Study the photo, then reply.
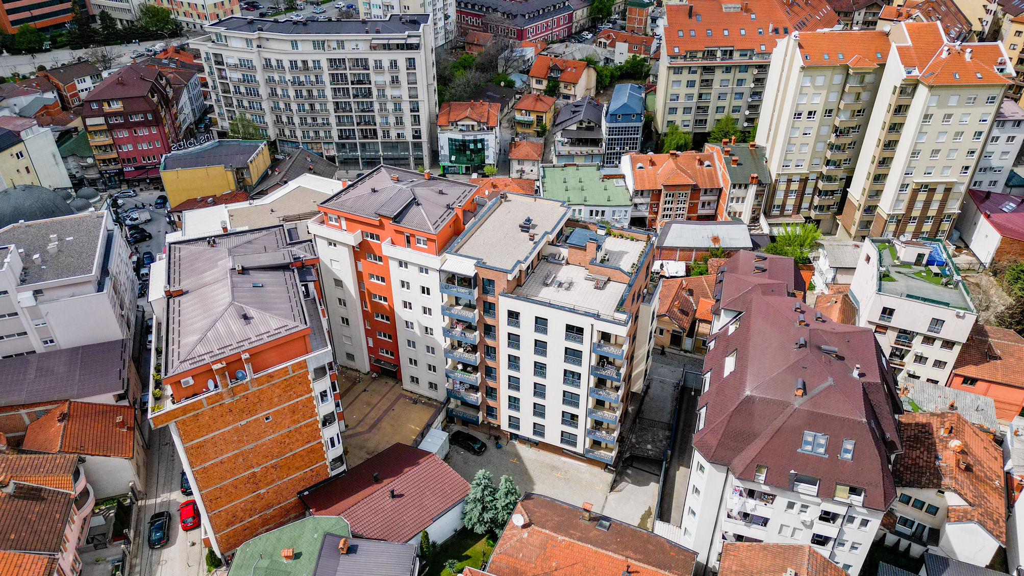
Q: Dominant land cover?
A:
buildings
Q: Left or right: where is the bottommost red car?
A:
left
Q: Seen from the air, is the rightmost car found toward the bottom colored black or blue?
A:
black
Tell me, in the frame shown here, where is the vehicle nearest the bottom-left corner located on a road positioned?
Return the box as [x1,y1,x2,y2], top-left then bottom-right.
[141,509,173,554]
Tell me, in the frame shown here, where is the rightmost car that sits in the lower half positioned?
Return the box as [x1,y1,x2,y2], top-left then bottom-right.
[449,430,487,457]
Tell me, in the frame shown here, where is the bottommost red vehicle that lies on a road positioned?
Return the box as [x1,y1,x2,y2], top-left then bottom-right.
[175,498,200,536]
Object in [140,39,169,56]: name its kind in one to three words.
vehicle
